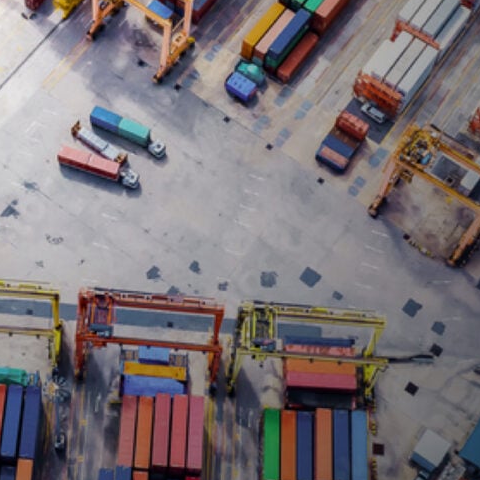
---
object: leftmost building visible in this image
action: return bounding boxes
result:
[410,426,454,472]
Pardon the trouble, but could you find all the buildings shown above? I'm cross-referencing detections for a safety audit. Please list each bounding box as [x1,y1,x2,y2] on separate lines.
[410,426,454,472]
[452,406,480,480]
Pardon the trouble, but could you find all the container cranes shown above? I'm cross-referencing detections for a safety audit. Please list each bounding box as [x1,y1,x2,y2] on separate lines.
[0,279,63,389]
[225,294,443,415]
[73,282,228,402]
[361,123,480,274]
[86,0,197,88]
